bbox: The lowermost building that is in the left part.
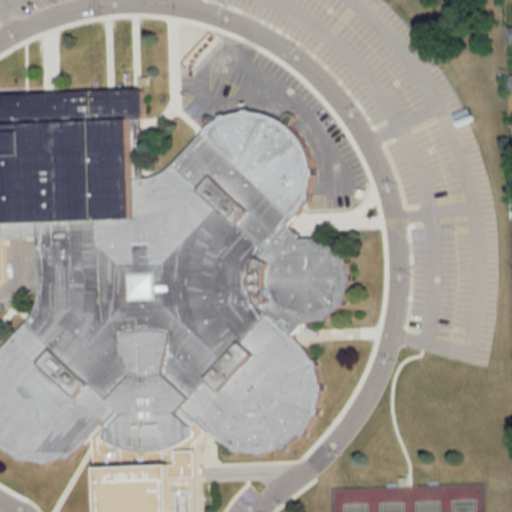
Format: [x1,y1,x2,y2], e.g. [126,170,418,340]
[0,88,351,512]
